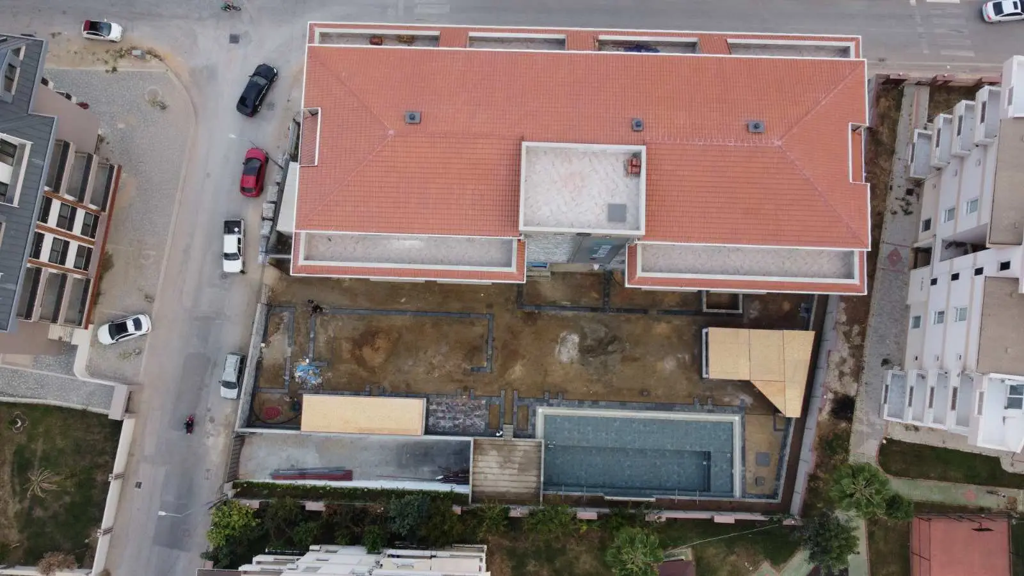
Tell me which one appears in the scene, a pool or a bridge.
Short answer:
pool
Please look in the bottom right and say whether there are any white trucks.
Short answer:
No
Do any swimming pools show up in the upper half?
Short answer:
No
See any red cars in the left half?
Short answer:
Yes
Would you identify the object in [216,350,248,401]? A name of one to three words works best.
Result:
car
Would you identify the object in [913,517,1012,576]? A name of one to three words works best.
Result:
sports court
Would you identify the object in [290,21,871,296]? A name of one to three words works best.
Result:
house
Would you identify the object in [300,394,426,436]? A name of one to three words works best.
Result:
shed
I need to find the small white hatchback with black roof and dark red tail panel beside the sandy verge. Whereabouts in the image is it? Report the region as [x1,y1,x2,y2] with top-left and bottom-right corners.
[77,18,124,43]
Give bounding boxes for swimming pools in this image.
[538,408,742,506]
